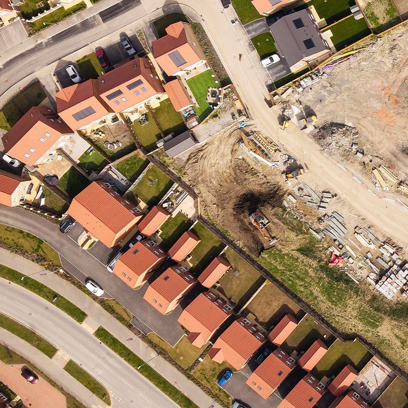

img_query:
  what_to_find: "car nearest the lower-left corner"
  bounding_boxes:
[20,367,40,386]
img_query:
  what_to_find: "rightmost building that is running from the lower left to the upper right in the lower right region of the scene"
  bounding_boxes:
[327,364,359,397]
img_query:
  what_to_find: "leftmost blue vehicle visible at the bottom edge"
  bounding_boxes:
[215,370,234,388]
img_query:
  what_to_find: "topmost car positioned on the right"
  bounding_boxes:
[260,54,281,68]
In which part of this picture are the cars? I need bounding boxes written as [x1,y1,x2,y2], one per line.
[84,279,105,297]
[231,399,249,408]
[215,370,234,388]
[254,345,273,365]
[128,232,147,248]
[120,37,136,56]
[20,367,40,386]
[1,152,21,168]
[95,47,111,68]
[61,217,77,234]
[65,64,82,84]
[260,54,281,68]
